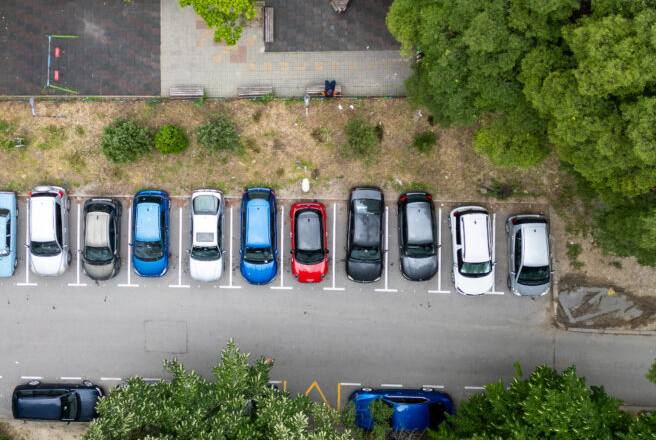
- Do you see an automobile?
Yes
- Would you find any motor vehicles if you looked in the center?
Yes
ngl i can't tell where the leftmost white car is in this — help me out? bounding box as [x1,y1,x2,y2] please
[25,186,71,276]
